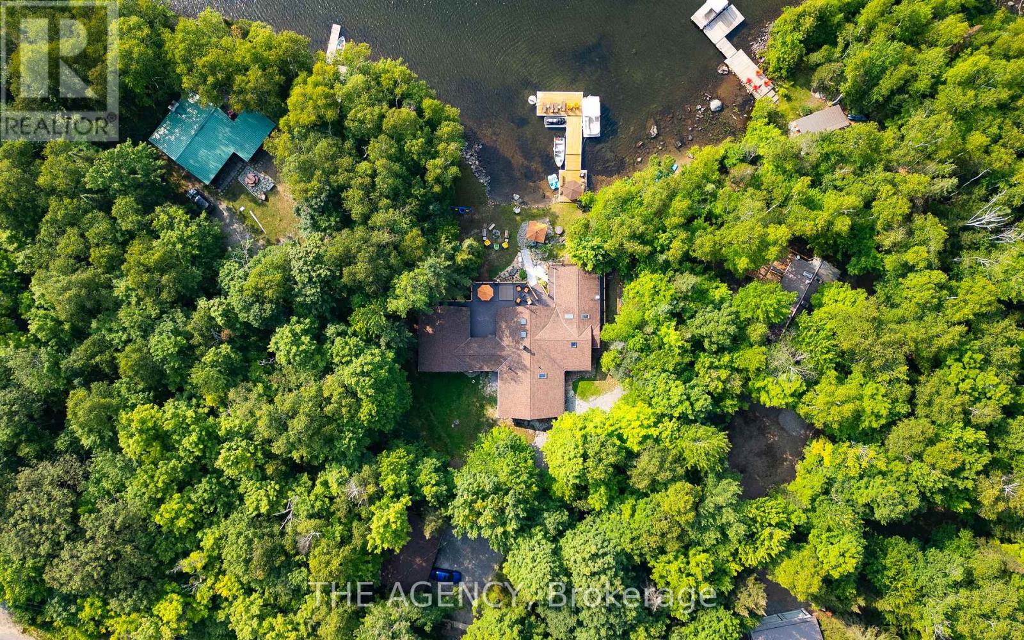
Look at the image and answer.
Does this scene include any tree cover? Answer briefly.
Yes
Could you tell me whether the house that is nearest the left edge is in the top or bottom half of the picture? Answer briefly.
top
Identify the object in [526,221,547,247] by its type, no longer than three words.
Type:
umbrella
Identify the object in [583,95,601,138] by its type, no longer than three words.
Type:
boat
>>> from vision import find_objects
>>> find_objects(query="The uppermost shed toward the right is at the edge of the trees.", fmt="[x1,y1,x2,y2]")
[796,101,847,138]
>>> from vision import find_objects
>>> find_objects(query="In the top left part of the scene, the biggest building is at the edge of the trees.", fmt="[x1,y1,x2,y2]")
[154,94,283,188]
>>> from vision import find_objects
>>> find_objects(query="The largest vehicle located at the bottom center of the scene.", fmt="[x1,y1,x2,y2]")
[430,568,460,585]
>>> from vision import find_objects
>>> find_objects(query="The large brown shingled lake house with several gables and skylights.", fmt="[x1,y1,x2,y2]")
[417,265,601,421]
